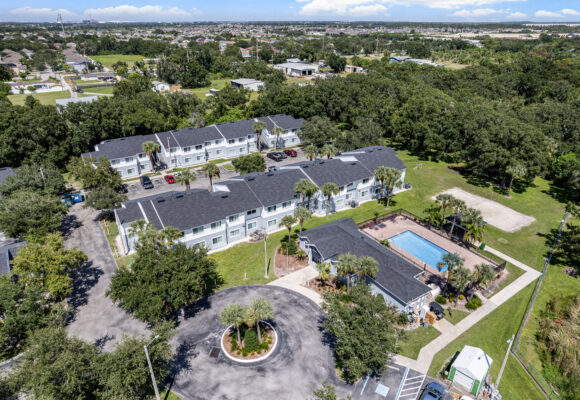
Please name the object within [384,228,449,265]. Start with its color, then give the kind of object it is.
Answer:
blue swimming pool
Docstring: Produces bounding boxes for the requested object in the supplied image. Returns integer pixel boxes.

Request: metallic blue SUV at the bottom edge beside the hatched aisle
[422,373,450,400]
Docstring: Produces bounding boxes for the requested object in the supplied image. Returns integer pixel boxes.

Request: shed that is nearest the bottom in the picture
[448,344,494,395]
